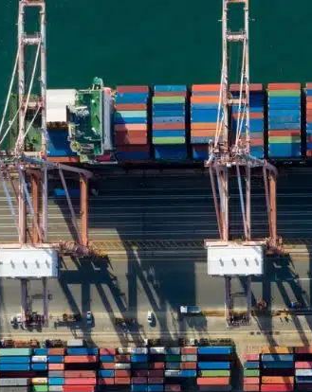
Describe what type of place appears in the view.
port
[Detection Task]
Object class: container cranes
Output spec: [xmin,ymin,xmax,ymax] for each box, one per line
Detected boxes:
[202,0,295,331]
[0,0,115,331]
